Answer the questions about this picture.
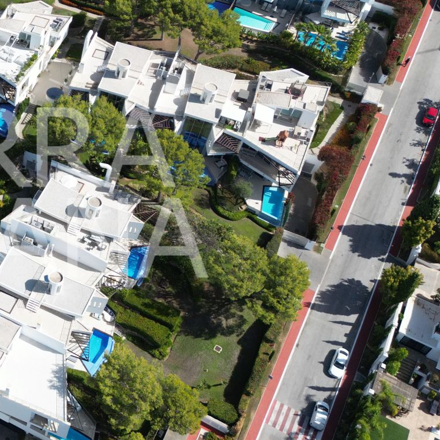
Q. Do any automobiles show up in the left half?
No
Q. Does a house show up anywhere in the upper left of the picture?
Yes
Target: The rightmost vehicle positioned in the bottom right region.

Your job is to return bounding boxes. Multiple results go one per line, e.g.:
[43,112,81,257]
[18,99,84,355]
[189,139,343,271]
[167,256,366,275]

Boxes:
[323,345,350,382]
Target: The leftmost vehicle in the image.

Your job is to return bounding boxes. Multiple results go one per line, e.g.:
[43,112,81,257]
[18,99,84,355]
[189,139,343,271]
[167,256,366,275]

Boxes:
[305,398,332,434]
